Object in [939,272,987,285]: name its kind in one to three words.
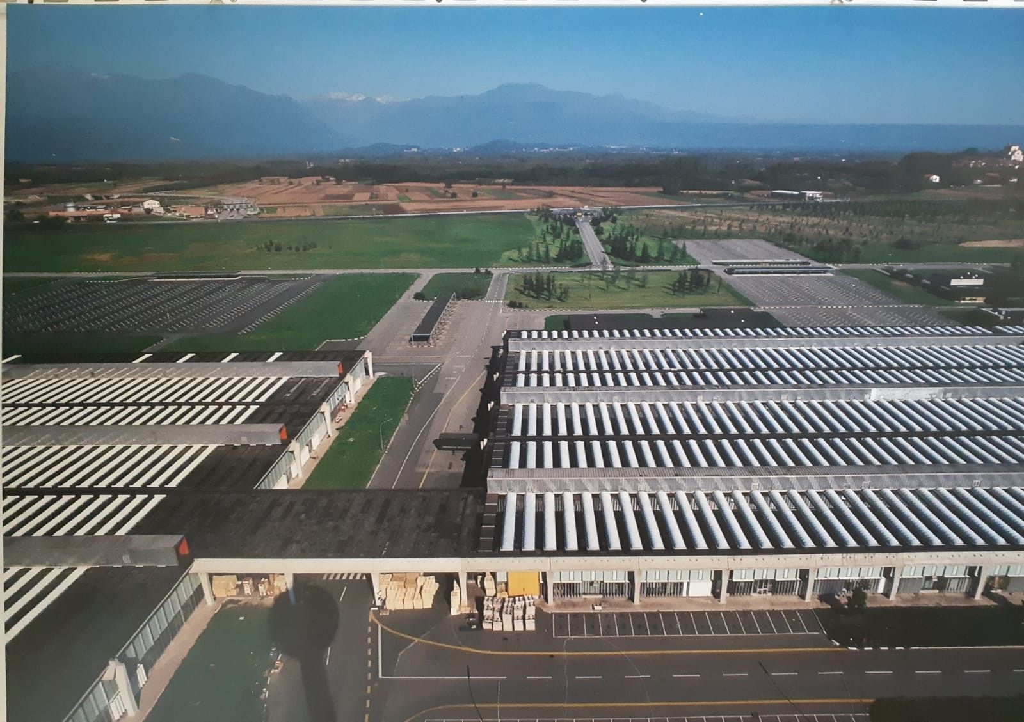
building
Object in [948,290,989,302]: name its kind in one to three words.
building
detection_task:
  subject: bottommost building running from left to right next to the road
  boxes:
[463,324,1024,602]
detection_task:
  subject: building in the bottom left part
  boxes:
[0,350,371,722]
